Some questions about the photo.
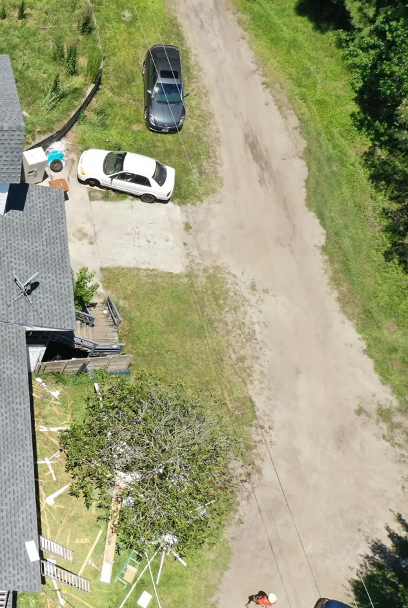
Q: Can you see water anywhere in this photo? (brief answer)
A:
No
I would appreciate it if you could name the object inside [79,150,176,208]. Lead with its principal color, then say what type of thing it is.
white car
